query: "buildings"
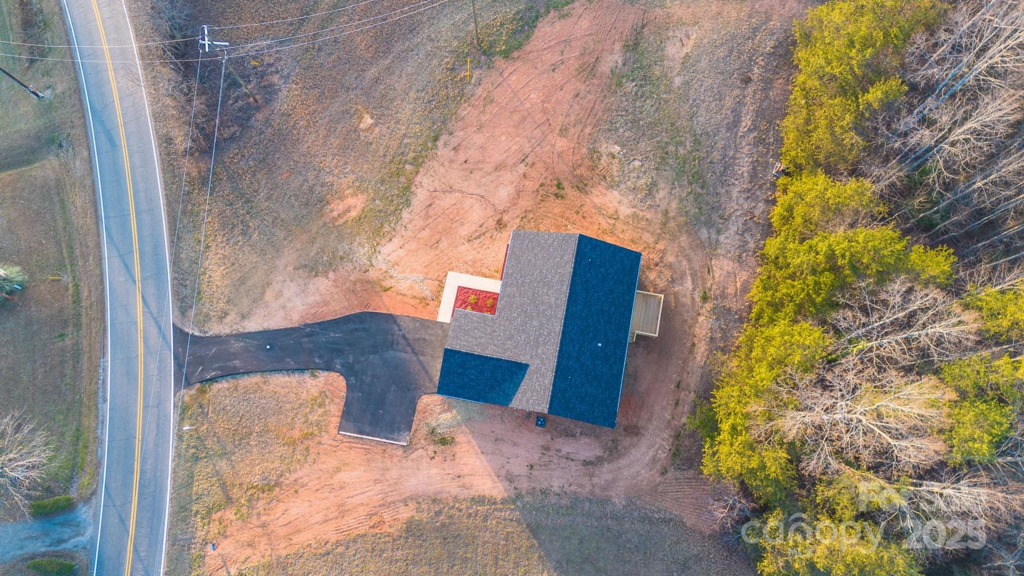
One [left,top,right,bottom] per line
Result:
[435,230,644,429]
